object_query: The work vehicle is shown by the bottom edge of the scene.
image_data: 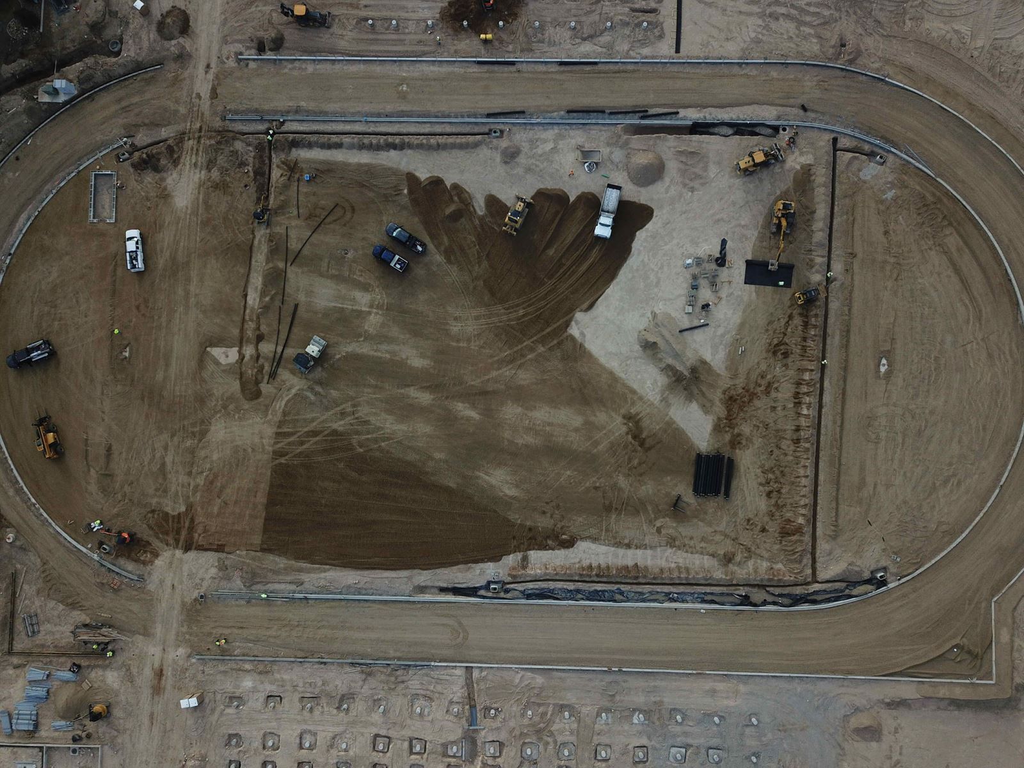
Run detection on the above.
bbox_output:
[65,701,109,730]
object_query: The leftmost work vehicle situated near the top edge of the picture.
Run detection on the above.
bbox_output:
[276,0,331,29]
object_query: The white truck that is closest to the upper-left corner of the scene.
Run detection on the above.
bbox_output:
[120,227,144,272]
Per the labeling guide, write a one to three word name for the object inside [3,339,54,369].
truck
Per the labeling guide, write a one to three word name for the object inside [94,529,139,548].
work vehicle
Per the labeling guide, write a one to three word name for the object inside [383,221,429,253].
truck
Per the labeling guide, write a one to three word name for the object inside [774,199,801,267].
work vehicle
